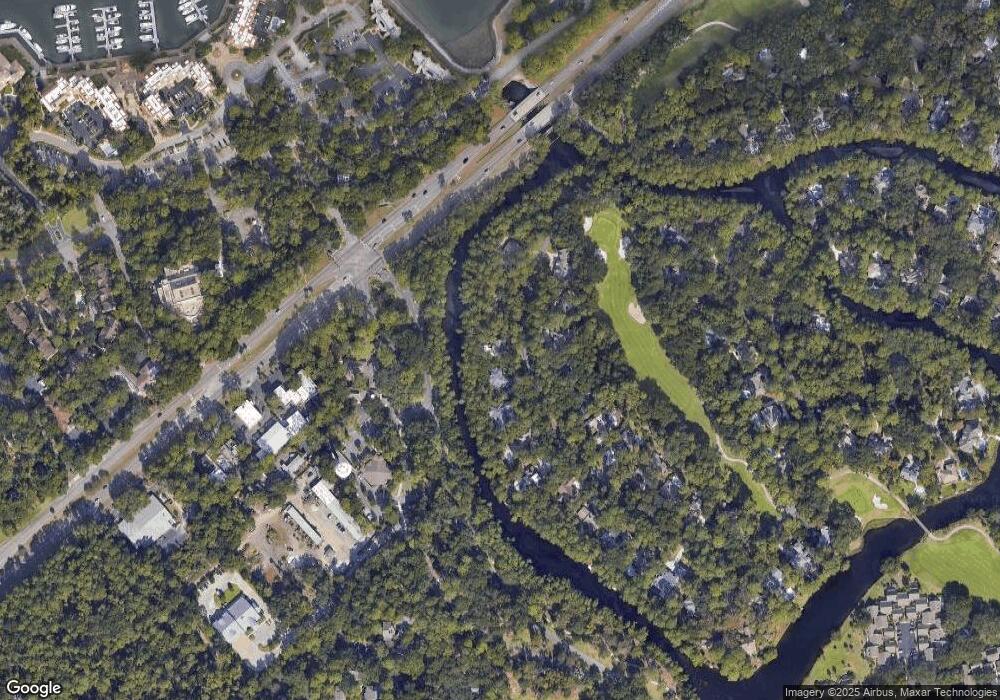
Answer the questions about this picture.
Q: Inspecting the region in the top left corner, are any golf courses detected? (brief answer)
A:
No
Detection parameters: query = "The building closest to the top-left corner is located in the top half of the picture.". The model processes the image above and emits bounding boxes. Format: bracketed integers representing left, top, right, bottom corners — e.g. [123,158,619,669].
[0,51,28,85]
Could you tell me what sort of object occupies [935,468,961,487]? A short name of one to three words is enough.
house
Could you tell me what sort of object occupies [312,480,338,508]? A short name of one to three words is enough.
shed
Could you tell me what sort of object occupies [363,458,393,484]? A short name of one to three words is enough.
building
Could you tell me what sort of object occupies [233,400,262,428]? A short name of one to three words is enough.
building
